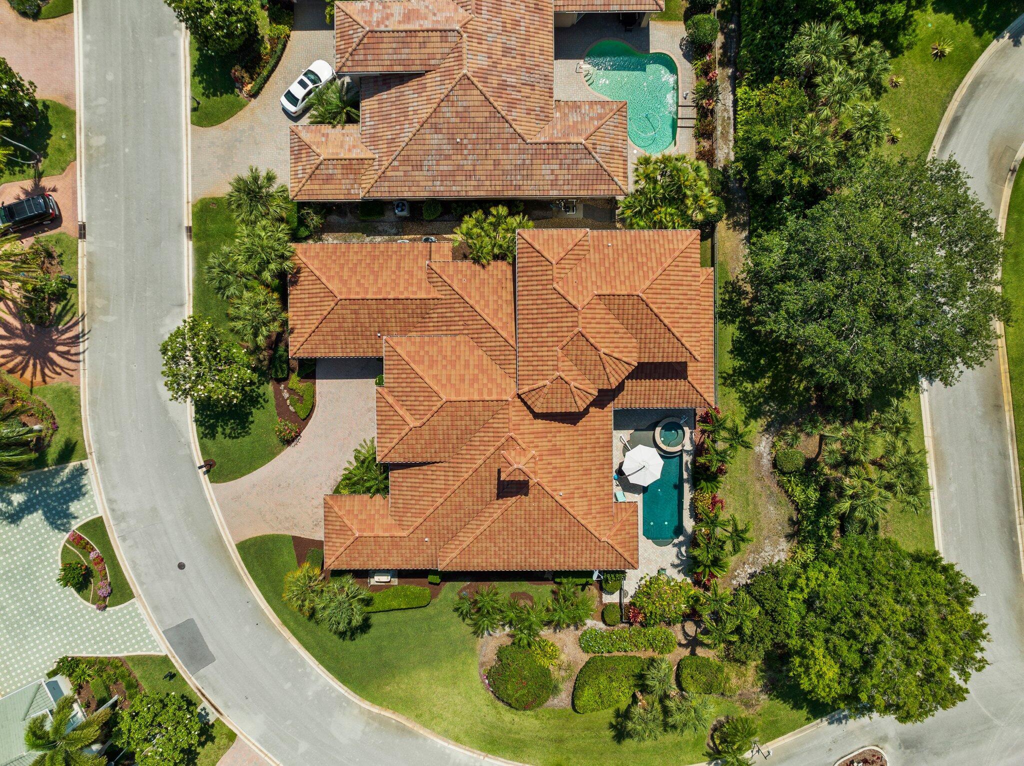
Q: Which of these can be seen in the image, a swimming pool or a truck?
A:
swimming pool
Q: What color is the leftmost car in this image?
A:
black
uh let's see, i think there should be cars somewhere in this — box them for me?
[280,58,335,115]
[0,194,63,237]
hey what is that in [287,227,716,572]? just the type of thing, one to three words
house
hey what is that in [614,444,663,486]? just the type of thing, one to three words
umbrella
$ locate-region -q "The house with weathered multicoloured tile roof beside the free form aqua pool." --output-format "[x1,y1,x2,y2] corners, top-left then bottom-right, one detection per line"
[288,0,666,205]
